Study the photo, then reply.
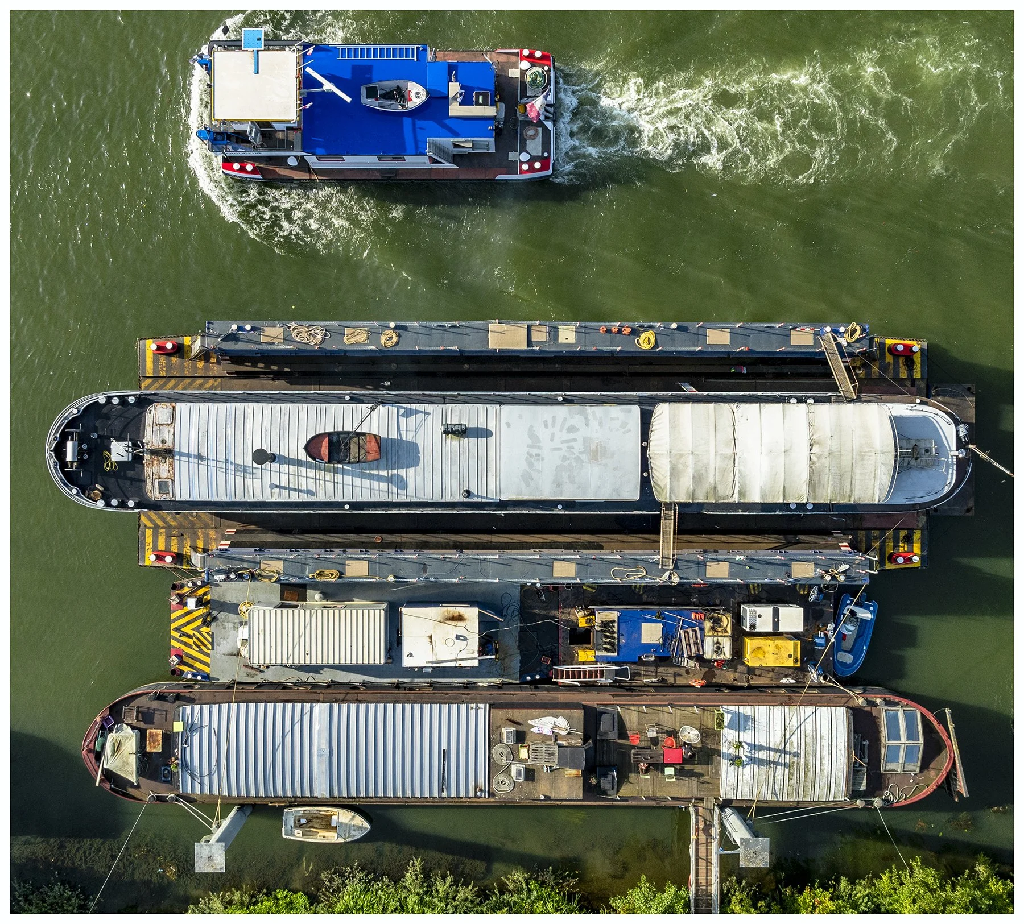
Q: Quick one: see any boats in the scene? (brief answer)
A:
Yes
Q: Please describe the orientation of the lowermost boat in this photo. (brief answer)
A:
from left to right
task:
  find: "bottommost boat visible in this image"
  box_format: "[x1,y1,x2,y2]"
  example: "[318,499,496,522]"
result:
[282,805,372,843]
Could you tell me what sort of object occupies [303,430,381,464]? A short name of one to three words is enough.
boat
